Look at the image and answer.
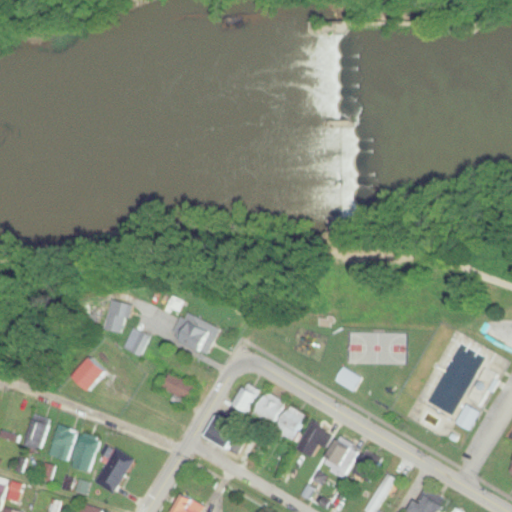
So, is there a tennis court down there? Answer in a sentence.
No, the frame has no tennis court in it.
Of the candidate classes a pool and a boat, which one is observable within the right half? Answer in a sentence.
You can see a pool within the right half.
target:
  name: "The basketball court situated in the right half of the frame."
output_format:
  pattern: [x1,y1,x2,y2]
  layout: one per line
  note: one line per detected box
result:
[348,332,408,366]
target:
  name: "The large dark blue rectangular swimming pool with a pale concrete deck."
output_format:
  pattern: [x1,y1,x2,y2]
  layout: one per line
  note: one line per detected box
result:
[410,332,512,438]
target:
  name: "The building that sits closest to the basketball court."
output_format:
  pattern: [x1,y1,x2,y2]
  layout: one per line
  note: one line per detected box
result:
[336,366,364,393]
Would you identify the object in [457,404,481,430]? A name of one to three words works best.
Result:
building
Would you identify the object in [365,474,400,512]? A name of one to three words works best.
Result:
house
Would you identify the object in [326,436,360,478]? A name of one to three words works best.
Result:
house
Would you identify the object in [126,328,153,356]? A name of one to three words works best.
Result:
building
